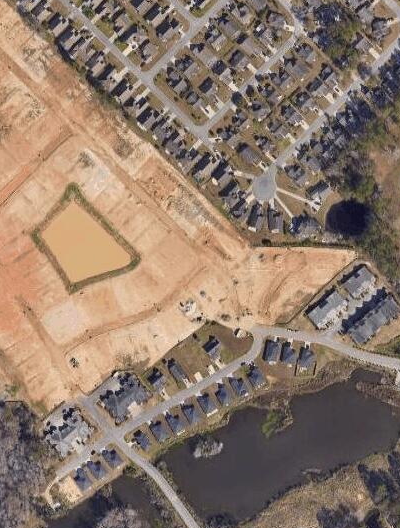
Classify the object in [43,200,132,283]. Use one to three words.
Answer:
pond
